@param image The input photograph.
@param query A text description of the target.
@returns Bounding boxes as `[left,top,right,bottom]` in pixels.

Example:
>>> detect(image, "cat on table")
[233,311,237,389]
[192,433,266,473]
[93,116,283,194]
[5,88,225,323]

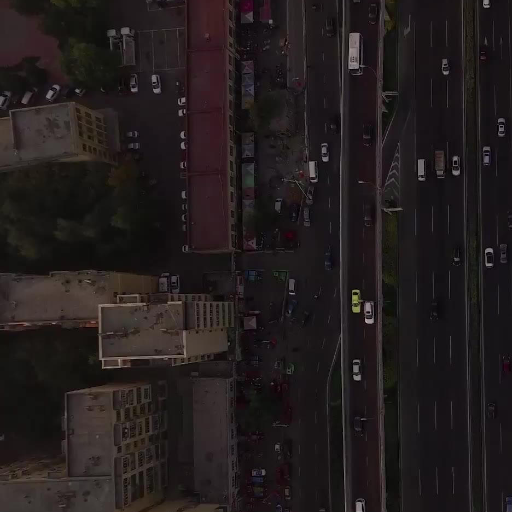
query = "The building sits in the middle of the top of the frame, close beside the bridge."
[186,0,241,255]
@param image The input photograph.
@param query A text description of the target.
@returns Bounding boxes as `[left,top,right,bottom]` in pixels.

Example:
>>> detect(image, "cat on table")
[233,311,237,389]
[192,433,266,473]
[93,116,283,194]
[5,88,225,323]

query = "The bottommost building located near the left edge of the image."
[0,380,172,512]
